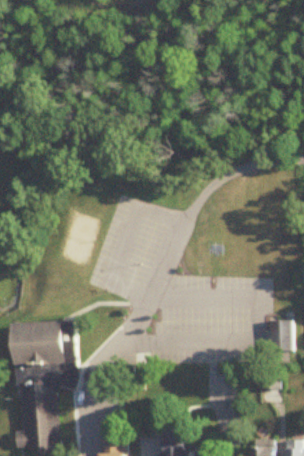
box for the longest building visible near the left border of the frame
[8,322,66,450]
